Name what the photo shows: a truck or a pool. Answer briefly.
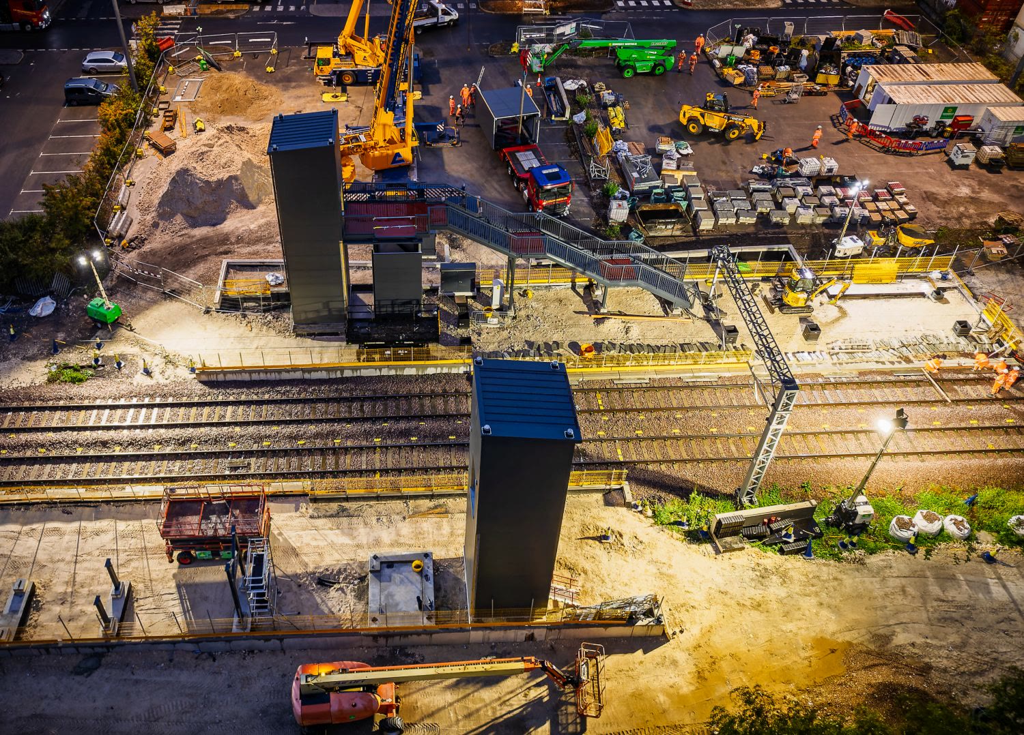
truck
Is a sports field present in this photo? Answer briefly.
No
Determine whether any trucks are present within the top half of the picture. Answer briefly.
Yes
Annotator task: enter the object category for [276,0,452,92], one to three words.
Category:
crane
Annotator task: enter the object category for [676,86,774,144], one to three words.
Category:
work vehicle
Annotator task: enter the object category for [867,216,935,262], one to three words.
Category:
truck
